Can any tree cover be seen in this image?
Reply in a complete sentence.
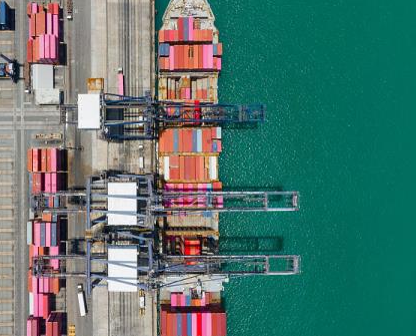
No, the scene doesn't show any tree cover.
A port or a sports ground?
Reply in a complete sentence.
This looks like a port.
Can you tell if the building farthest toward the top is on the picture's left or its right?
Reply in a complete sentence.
The building farthest toward the top is on the left side of the image.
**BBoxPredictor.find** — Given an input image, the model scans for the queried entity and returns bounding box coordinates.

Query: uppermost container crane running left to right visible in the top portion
[59,91,265,147]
